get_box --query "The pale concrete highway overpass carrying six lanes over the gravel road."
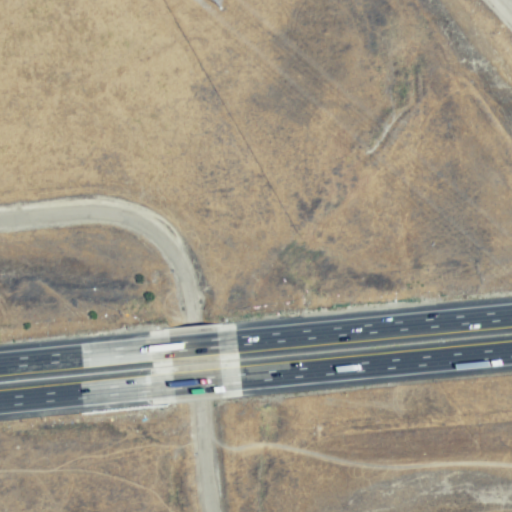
[150,320,243,404]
